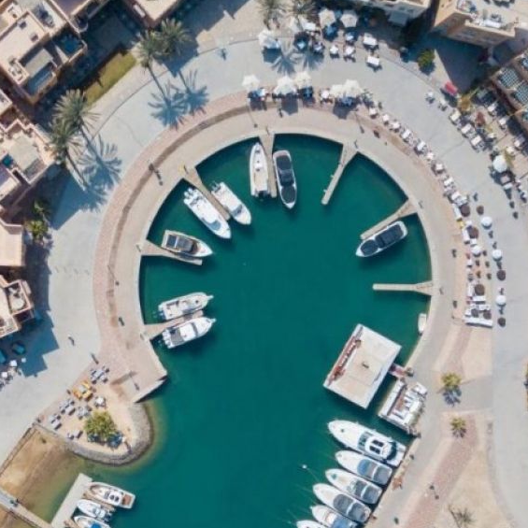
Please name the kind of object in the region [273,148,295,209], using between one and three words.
boat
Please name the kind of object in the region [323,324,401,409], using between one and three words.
building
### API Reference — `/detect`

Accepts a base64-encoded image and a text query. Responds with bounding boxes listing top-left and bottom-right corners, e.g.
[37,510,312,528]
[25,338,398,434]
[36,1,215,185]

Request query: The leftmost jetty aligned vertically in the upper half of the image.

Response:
[259,134,276,198]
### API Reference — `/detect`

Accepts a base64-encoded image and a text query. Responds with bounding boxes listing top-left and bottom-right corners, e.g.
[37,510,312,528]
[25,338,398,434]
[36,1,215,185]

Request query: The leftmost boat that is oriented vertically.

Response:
[248,142,268,199]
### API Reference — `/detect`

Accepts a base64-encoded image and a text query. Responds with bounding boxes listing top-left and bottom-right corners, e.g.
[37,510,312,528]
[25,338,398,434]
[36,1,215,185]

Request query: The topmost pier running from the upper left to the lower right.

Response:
[184,168,230,220]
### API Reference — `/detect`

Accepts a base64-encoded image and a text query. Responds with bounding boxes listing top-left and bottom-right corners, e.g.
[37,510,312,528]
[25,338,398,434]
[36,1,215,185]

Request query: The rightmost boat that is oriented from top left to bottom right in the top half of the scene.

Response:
[210,183,249,224]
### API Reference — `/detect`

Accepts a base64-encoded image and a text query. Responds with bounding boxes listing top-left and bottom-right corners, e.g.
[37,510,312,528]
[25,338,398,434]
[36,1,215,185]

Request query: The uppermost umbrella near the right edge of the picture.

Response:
[492,157,507,171]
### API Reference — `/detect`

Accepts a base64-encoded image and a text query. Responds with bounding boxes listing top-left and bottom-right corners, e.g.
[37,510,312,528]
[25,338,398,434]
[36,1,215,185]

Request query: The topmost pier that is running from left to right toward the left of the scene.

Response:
[141,240,203,265]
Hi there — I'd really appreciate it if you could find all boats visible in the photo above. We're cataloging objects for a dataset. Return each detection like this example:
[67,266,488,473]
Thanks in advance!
[310,505,358,528]
[356,222,409,255]
[210,183,249,224]
[183,187,230,238]
[248,142,268,199]
[312,484,376,527]
[273,148,295,209]
[161,317,218,348]
[325,470,383,507]
[327,419,411,470]
[89,483,134,508]
[161,230,214,257]
[75,515,113,528]
[335,451,397,488]
[78,500,112,520]
[155,293,216,322]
